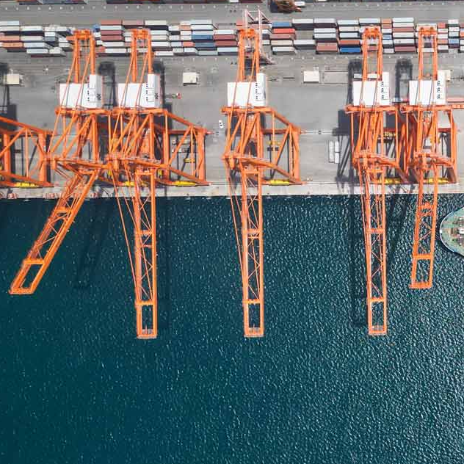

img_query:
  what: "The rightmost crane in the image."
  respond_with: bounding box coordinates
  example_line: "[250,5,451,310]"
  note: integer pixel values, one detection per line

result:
[397,25,464,289]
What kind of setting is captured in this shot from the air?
port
